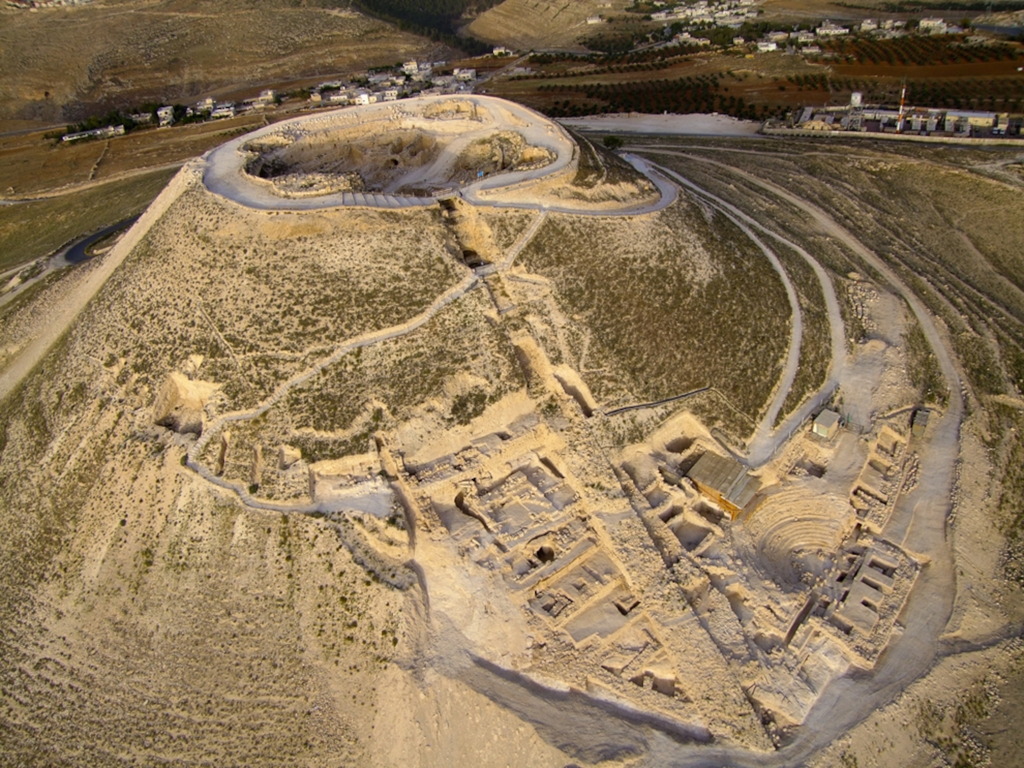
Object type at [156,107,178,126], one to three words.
house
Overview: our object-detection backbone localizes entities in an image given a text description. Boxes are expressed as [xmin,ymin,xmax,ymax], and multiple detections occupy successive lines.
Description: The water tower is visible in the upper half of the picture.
[847,91,869,128]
